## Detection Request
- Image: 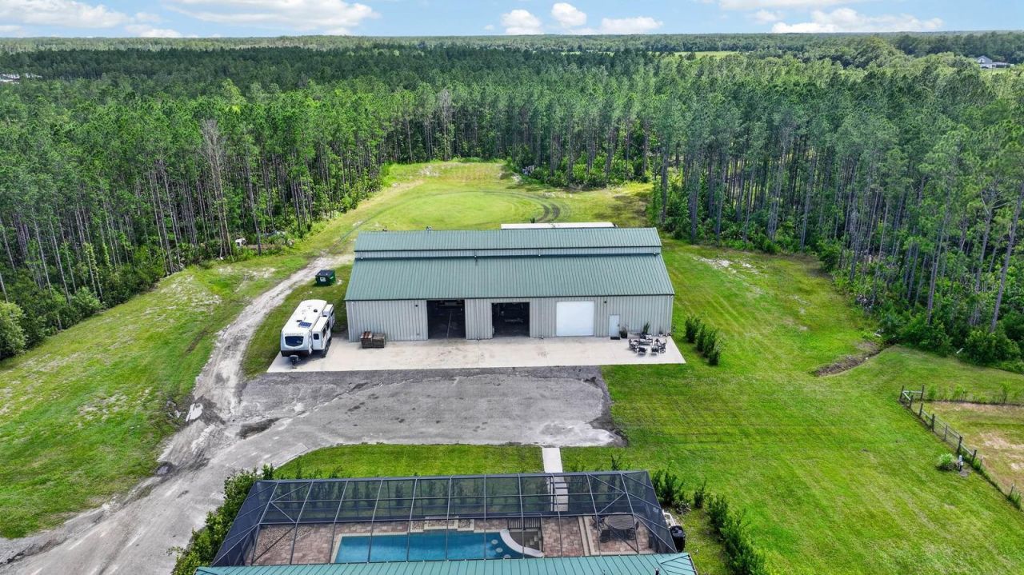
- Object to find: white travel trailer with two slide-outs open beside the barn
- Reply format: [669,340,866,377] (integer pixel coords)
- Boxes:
[283,302,337,368]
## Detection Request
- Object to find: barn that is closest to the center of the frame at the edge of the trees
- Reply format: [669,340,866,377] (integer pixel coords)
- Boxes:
[343,226,676,342]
